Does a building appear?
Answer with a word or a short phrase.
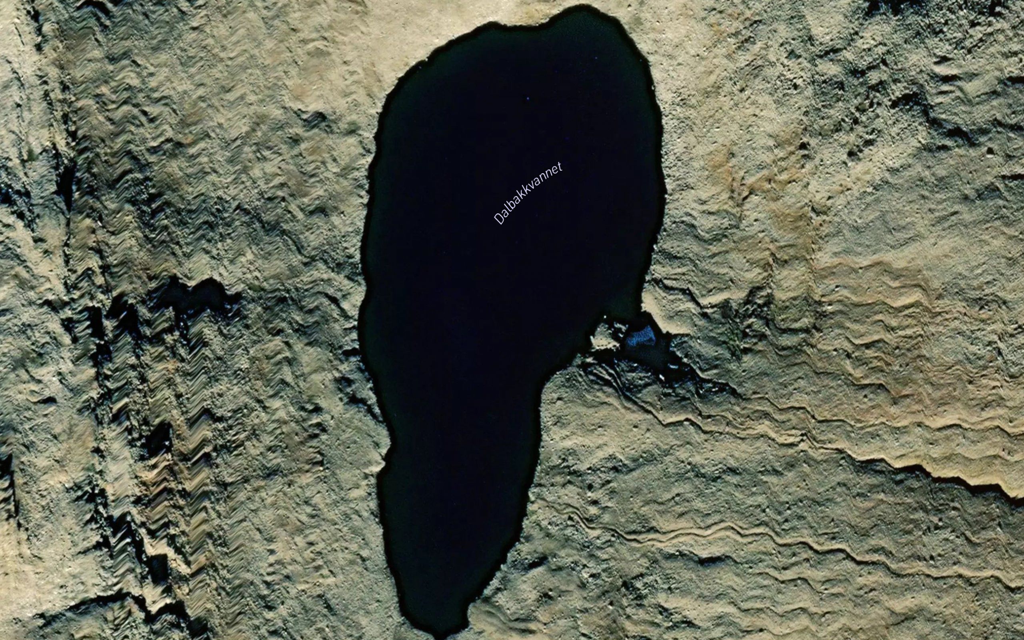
No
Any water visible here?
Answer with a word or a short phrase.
Yes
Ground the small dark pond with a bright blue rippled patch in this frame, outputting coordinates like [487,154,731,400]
[587,307,736,395]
